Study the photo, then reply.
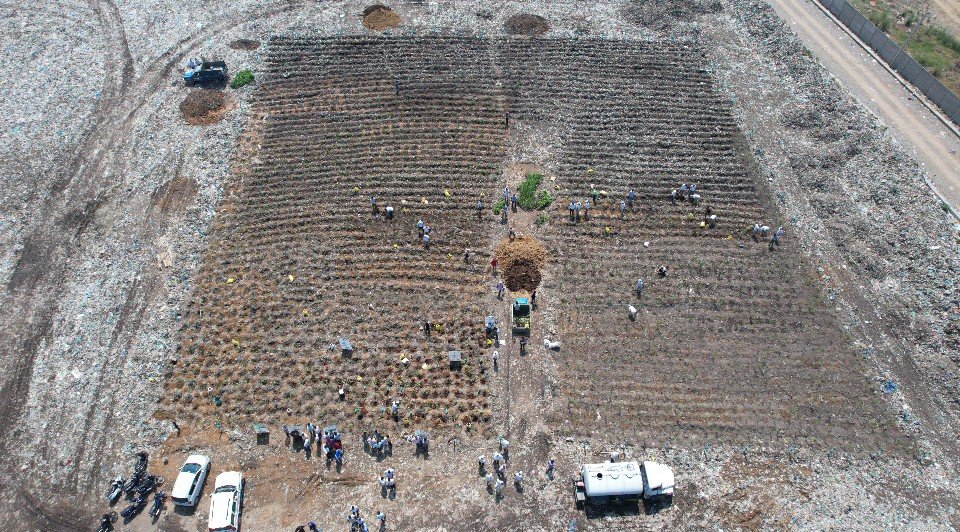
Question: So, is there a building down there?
No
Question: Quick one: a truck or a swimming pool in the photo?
truck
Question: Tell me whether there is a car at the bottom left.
Yes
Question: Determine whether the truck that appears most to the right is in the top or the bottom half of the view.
bottom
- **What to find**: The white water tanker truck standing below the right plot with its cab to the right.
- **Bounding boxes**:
[574,458,677,505]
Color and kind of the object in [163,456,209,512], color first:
white car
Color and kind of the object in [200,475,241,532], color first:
white car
